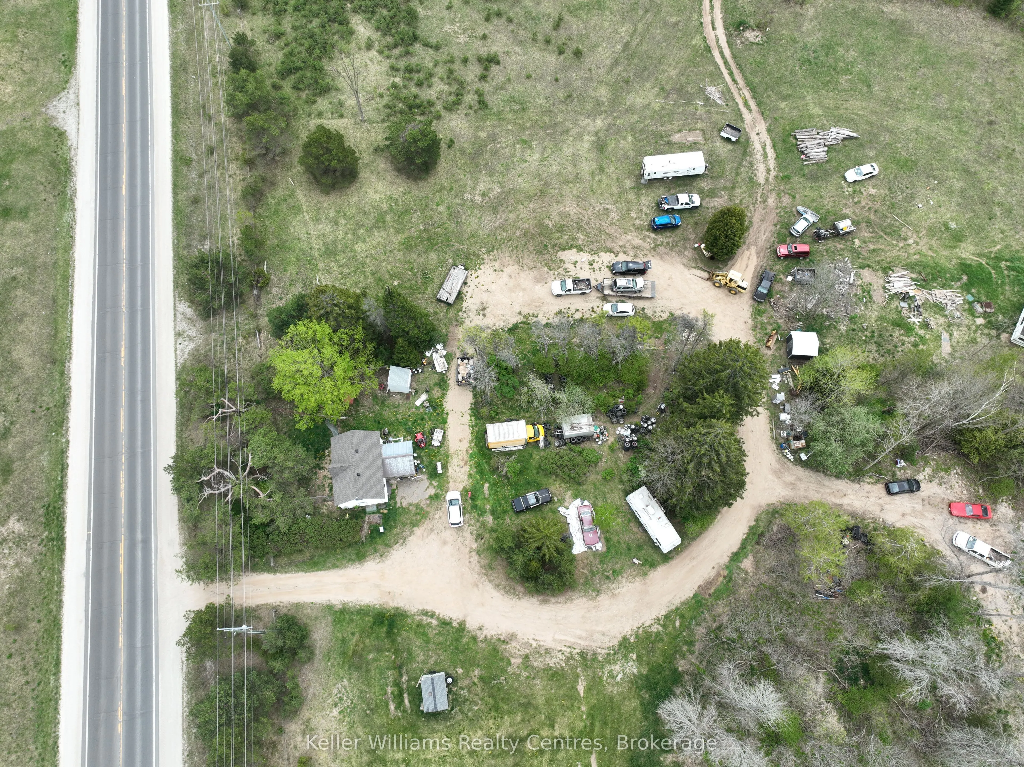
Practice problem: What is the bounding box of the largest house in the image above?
[327,429,416,509]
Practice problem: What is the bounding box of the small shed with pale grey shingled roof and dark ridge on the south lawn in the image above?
[421,673,449,713]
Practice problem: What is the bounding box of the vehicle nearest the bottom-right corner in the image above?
[951,532,1010,571]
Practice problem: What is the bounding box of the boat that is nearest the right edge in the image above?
[797,207,819,224]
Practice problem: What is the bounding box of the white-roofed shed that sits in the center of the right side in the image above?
[785,331,819,361]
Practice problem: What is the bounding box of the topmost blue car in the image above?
[649,213,682,231]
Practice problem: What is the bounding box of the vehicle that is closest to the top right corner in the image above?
[841,163,881,184]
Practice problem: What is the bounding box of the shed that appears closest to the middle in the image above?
[387,366,413,393]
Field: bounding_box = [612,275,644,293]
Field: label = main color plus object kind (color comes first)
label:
white car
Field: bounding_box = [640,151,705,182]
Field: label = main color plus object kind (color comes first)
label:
white trailer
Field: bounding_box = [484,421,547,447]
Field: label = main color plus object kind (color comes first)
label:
white truck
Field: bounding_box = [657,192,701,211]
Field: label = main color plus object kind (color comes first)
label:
white vehicle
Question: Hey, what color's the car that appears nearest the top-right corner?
white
